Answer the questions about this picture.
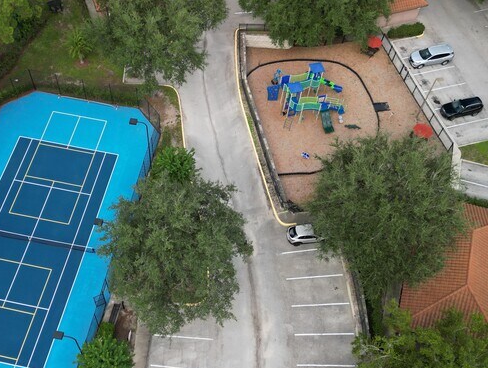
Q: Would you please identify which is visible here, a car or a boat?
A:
car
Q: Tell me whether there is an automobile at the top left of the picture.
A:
No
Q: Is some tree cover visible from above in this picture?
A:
Yes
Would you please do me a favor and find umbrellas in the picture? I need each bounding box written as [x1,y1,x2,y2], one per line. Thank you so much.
[412,126,432,141]
[364,39,381,60]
